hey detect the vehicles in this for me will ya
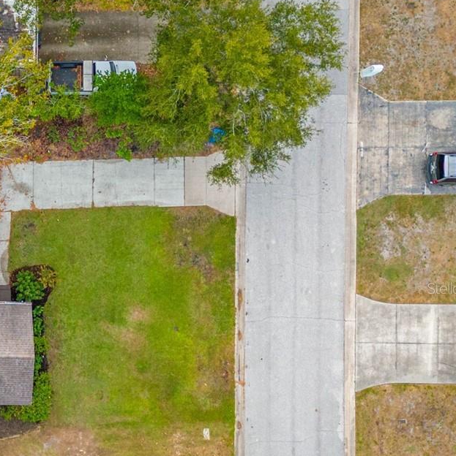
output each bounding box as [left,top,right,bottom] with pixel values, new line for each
[426,152,456,186]
[45,55,139,97]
